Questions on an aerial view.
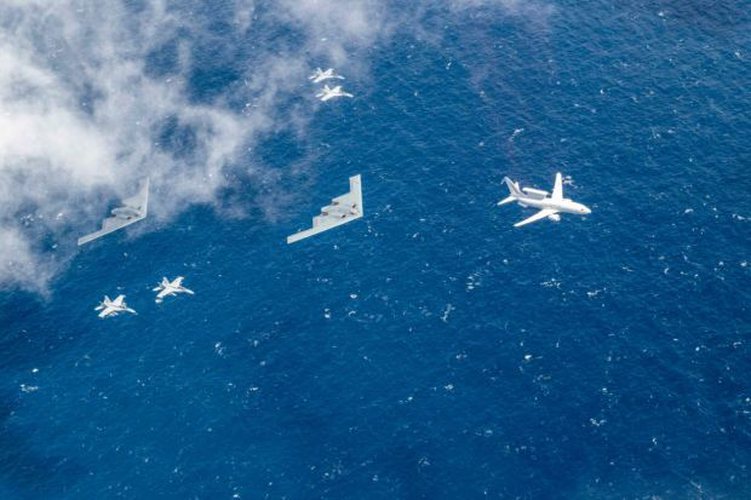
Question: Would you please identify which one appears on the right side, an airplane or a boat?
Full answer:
Looking on the right side, you will find an airplane.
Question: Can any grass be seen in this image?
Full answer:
No, there's no grass in this view.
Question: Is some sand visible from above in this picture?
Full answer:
No, no sand is visible.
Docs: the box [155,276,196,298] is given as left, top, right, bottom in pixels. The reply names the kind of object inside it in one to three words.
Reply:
airplane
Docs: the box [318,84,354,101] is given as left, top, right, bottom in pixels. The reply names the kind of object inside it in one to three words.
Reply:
airplane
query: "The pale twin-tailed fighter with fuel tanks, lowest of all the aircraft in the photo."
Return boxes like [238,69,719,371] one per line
[97,295,139,318]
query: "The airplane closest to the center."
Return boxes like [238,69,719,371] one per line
[287,176,362,243]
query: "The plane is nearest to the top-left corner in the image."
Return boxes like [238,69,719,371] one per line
[78,177,148,245]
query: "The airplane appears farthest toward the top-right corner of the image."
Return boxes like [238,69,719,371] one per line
[498,174,590,227]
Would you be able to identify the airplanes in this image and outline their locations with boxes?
[78,177,148,245]
[498,174,590,227]
[318,84,354,101]
[155,276,196,298]
[97,295,139,318]
[311,67,345,83]
[287,176,362,243]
